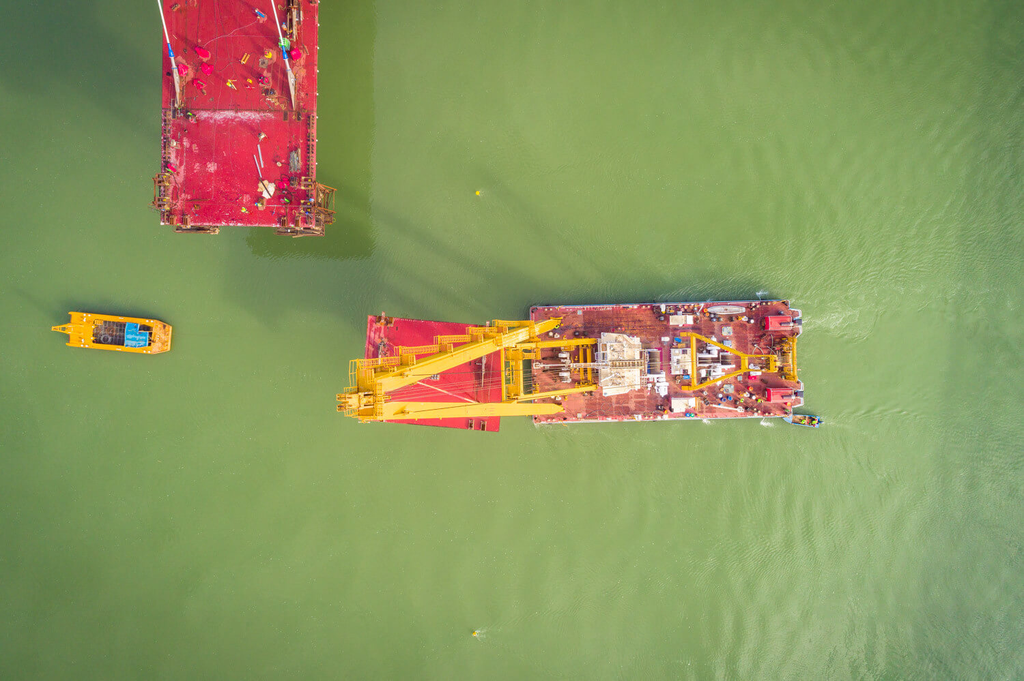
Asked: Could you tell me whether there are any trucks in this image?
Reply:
No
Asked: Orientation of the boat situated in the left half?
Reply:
horizontally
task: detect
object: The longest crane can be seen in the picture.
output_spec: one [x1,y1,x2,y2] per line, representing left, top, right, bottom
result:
[336,318,787,423]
